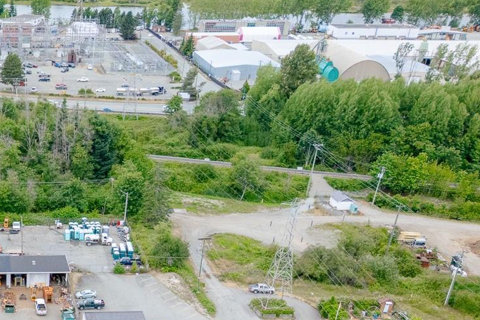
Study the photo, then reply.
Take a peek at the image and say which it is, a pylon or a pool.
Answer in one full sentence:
The image shows a pylon.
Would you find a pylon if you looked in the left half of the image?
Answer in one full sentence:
Yes, a pylon can be seen in the left half of the image.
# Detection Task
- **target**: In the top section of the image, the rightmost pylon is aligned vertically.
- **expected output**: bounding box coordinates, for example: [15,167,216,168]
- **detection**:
[114,43,148,118]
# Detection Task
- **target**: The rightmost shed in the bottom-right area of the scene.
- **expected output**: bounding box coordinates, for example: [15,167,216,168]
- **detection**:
[376,292,400,312]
